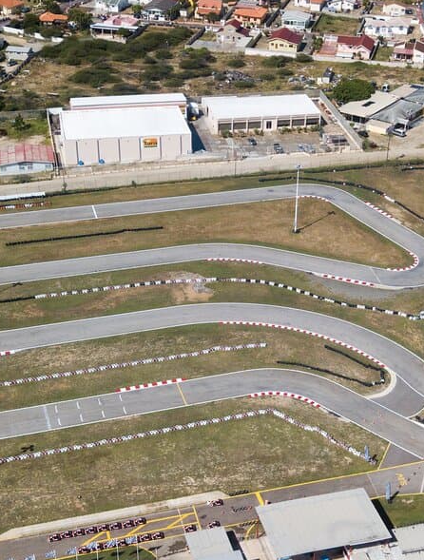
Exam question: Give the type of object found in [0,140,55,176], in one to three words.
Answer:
building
